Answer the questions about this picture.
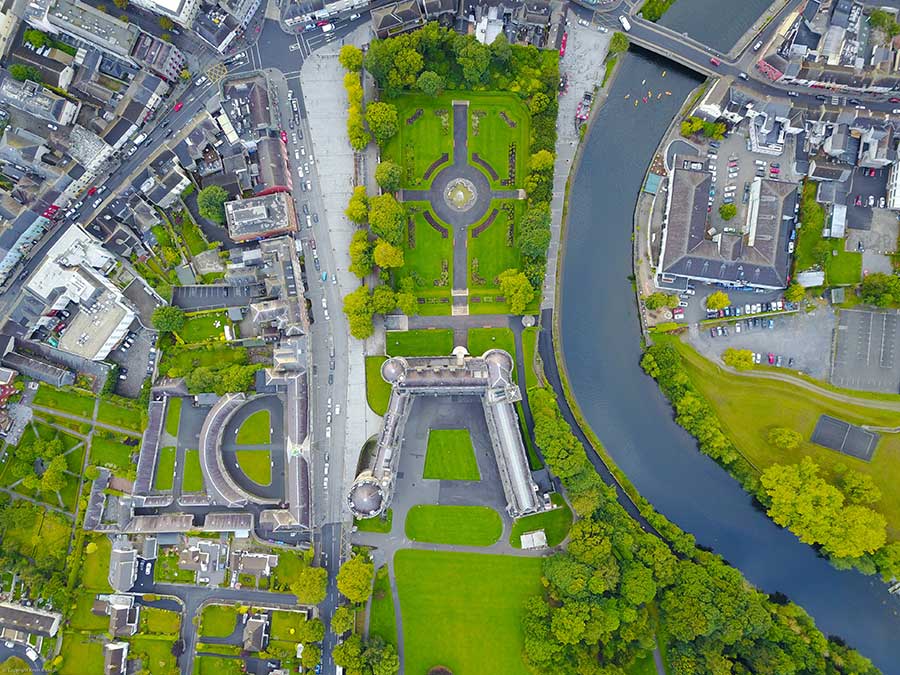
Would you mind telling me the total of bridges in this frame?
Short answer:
1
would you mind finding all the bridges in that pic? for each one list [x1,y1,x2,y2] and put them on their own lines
[608,9,728,78]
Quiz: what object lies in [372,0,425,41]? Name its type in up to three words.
house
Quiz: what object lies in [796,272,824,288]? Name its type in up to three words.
shed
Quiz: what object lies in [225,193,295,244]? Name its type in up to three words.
building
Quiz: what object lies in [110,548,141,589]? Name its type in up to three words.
house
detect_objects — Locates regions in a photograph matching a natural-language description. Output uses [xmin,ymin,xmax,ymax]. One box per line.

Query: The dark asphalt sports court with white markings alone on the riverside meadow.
[811,414,882,461]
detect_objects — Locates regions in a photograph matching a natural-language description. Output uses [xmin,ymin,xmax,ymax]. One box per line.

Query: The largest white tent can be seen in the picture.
[519,529,547,549]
